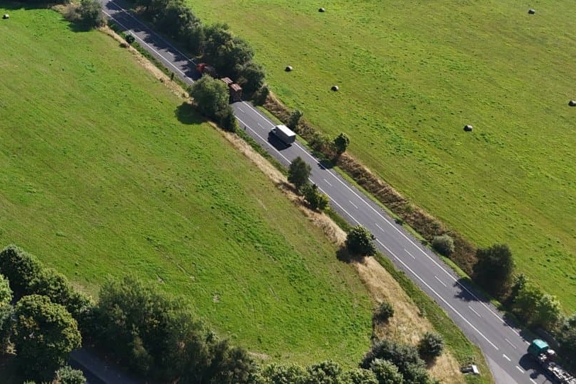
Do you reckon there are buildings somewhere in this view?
No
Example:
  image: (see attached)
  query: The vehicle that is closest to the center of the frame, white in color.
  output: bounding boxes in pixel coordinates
[270,124,294,143]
